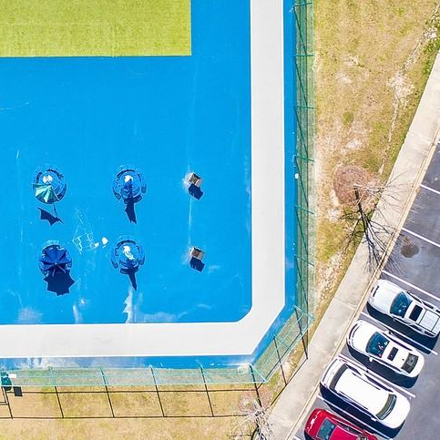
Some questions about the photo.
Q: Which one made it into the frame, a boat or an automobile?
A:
automobile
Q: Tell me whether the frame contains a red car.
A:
Yes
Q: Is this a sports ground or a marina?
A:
sports ground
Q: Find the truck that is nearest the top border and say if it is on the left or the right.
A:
right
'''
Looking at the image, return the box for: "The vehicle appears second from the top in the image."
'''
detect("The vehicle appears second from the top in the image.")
[343,319,424,377]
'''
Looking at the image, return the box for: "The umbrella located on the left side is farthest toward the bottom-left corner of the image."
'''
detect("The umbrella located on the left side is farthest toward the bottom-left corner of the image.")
[39,246,72,278]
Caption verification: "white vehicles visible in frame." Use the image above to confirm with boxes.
[343,319,424,377]
[364,278,440,339]
[318,356,407,424]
